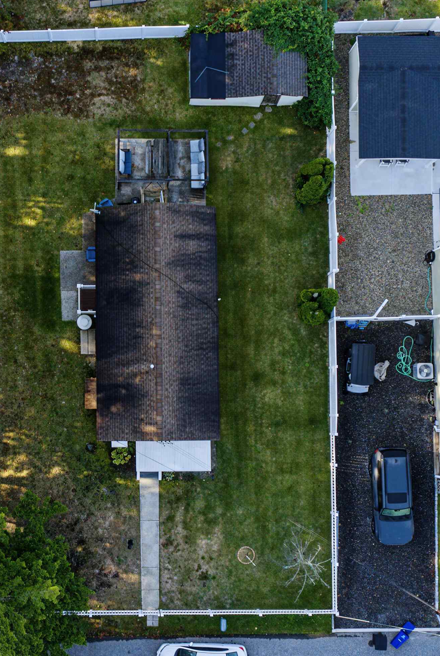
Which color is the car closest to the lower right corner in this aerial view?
blue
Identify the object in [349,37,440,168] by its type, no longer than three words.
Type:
building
